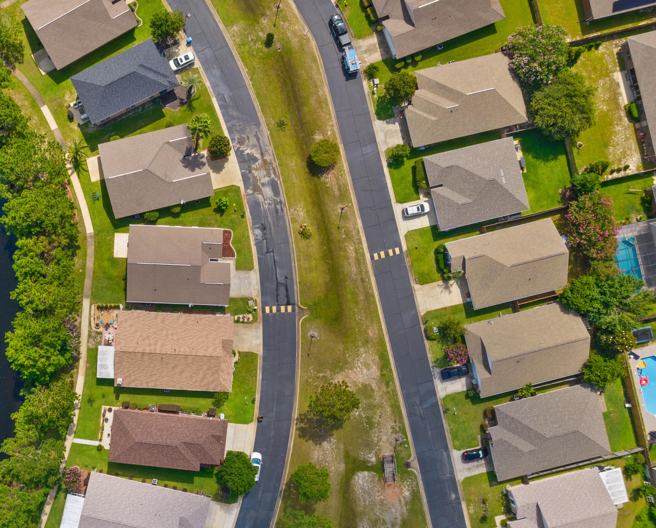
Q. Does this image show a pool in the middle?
No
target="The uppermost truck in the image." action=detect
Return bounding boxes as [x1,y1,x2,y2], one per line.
[330,14,352,48]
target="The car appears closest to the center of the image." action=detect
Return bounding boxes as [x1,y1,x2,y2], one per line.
[401,201,430,217]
